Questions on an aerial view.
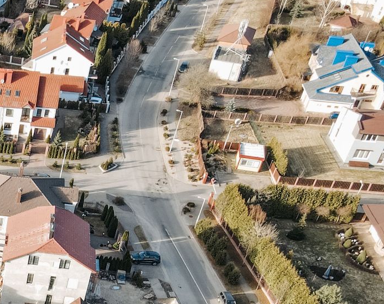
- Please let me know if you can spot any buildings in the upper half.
Yes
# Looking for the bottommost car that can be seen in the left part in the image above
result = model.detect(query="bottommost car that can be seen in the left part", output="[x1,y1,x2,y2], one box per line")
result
[131,249,163,265]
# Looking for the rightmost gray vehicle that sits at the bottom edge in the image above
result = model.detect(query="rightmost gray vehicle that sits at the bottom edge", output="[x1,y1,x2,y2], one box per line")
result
[216,287,241,304]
